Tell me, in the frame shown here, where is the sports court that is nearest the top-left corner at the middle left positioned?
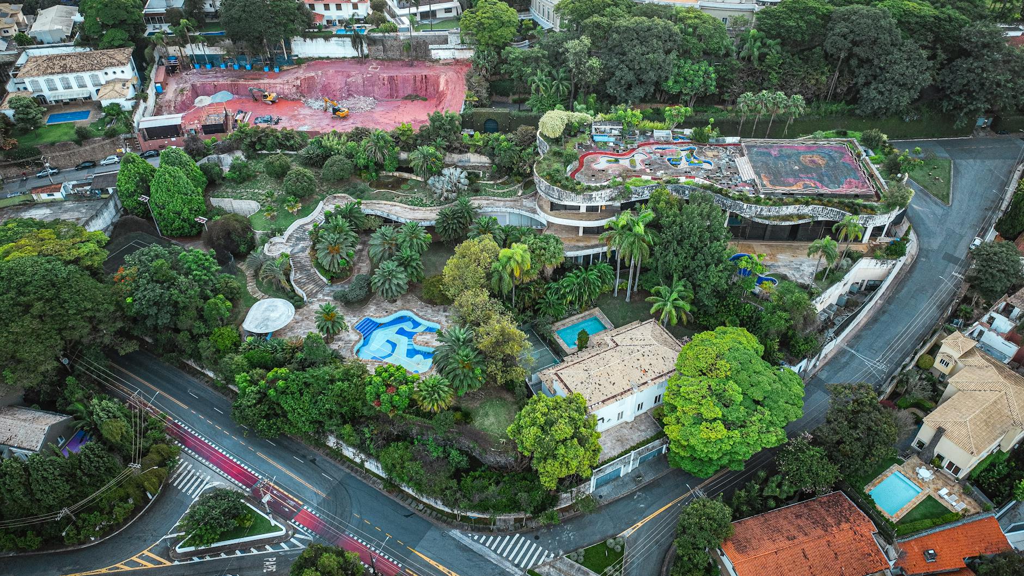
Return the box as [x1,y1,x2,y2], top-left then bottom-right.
[101,231,239,311]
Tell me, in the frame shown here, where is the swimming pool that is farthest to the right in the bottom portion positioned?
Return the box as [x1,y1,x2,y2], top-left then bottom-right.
[865,464,928,523]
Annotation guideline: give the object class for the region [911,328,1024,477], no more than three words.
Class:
house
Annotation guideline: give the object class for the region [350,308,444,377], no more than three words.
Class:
swimming pool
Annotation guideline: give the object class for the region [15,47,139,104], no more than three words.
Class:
house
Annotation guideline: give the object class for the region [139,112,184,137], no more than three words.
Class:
shed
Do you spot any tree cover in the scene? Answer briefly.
Yes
